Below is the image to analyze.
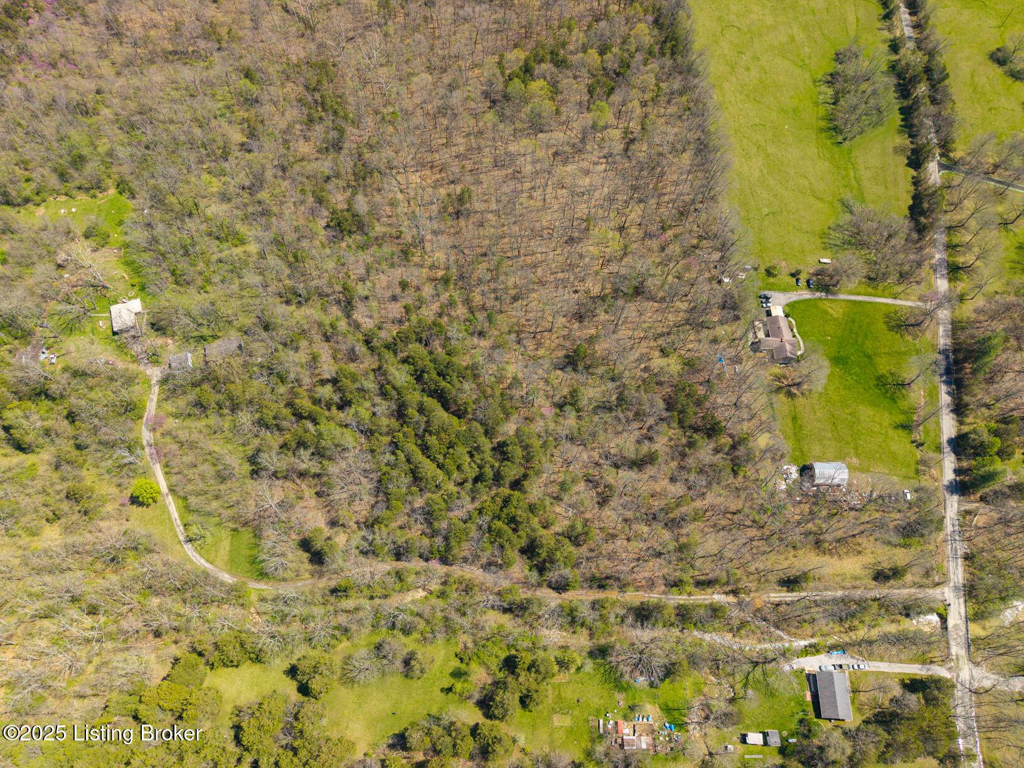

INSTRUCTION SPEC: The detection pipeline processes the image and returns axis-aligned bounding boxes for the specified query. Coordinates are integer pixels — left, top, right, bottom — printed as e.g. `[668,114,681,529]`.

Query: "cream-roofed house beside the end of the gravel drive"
[110,298,144,334]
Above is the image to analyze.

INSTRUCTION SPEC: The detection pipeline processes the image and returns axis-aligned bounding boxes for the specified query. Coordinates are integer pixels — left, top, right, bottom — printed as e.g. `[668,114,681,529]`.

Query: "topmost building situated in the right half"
[760,305,799,363]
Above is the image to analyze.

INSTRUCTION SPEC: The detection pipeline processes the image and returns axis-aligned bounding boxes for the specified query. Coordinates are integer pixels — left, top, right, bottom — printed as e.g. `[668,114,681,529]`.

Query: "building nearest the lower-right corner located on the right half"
[814,671,853,721]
